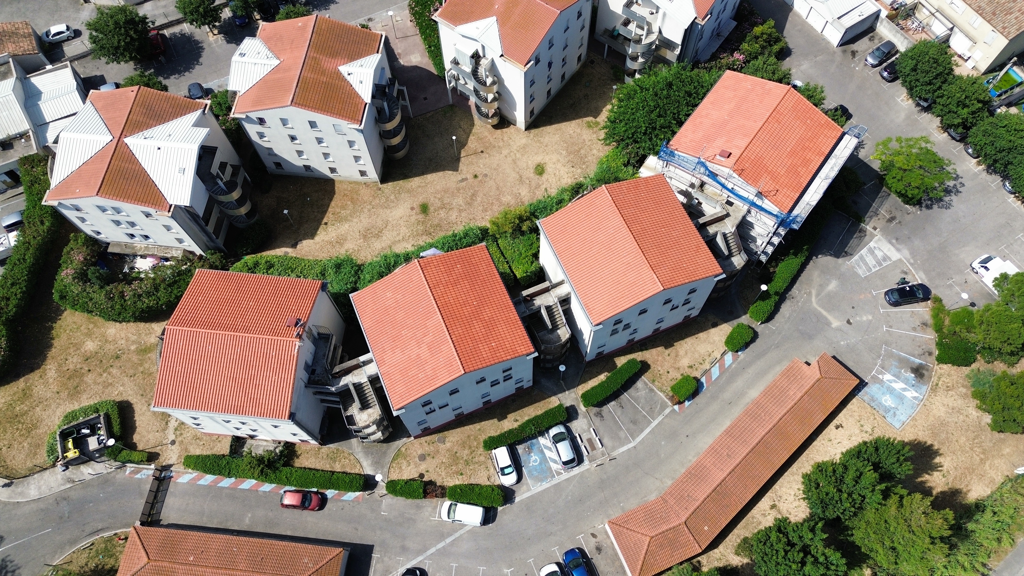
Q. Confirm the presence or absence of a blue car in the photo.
Yes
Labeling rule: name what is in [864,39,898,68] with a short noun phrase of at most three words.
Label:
car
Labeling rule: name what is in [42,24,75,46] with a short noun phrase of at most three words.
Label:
car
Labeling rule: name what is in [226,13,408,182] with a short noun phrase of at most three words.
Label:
house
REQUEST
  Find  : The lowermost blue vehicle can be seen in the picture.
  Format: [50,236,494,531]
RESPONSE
[565,548,592,576]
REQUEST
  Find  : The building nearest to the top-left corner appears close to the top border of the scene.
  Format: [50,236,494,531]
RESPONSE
[0,13,51,76]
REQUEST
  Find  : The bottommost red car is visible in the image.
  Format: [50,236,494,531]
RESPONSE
[278,490,323,512]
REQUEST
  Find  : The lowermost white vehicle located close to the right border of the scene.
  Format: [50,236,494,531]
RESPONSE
[965,255,1024,288]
